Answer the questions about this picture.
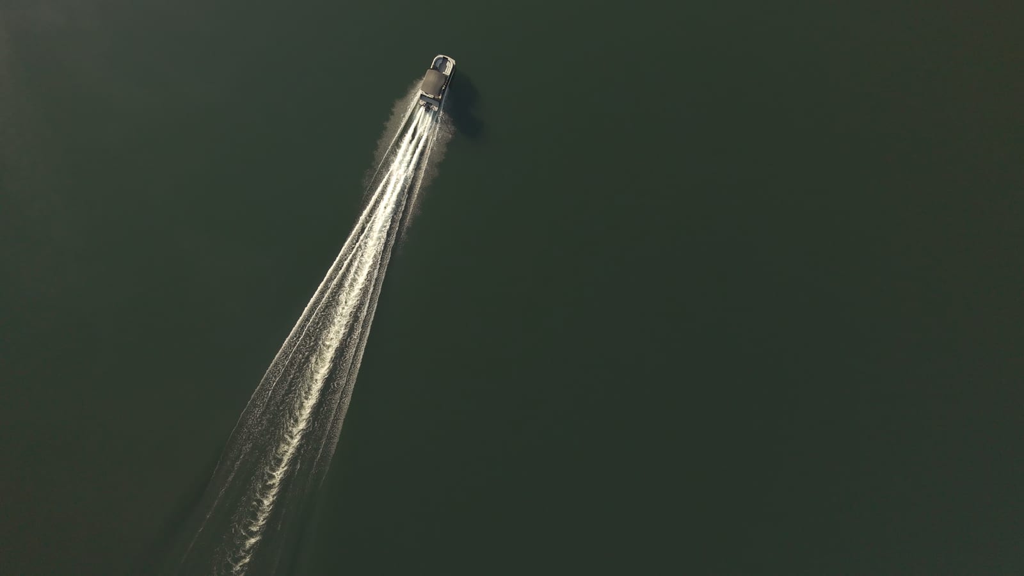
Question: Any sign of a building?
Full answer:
No, there's no building here.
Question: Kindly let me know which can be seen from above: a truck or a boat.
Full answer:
This aerial view contains a boat.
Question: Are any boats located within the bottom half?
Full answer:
No, there is no boat within the bottom half.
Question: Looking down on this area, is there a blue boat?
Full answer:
No, I can't see a single blue boat in this photo.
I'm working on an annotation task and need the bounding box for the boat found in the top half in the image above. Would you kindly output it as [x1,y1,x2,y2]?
[420,54,455,112]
